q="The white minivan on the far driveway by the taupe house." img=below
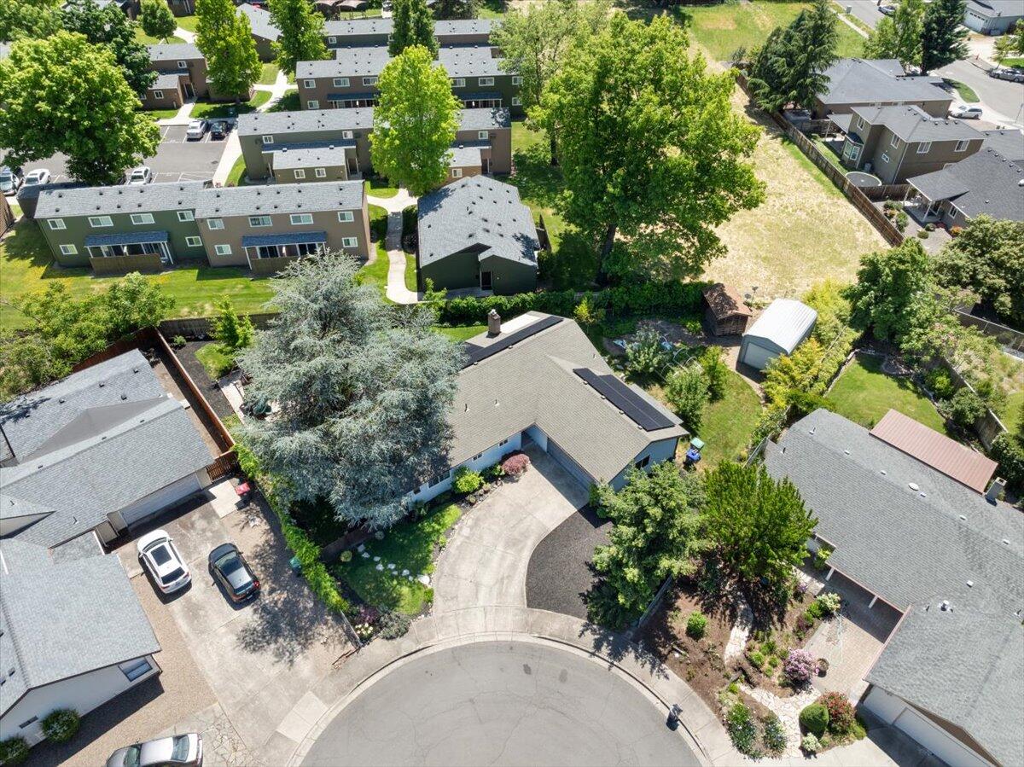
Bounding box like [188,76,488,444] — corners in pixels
[948,101,987,117]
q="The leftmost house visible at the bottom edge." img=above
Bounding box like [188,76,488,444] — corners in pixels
[0,520,165,764]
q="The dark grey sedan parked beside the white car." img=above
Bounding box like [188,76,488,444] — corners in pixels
[207,540,262,606]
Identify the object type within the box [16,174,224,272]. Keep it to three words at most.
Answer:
building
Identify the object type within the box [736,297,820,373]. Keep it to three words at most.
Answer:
shed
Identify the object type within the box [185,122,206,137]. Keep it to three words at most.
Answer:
car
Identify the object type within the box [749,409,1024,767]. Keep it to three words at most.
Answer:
house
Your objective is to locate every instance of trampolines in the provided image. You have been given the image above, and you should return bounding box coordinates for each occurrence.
[847,171,884,187]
